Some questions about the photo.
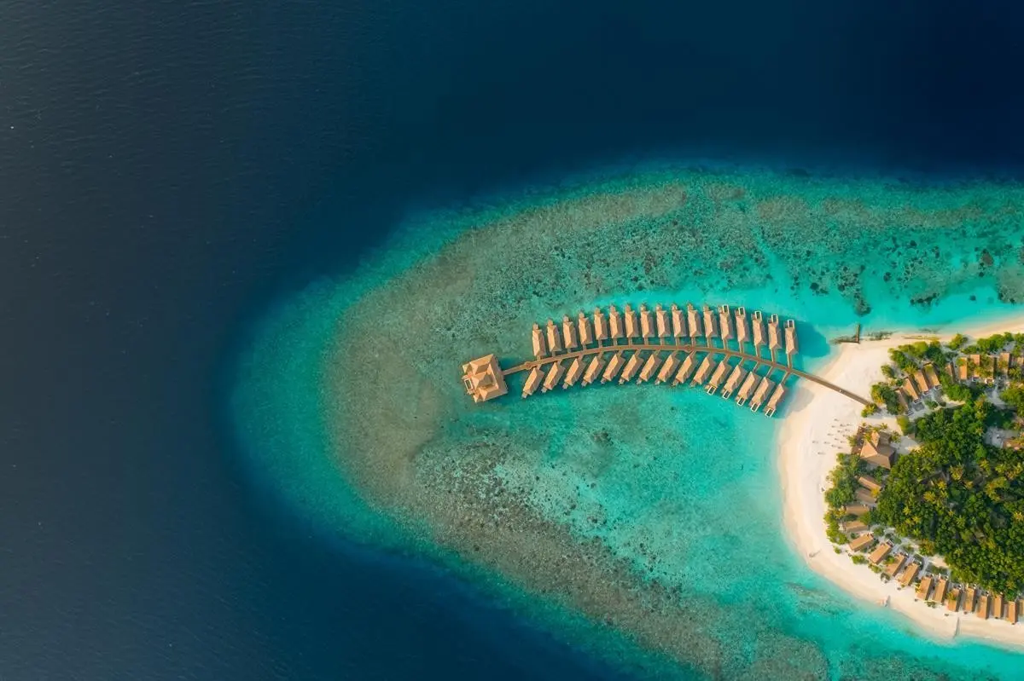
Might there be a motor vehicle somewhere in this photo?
No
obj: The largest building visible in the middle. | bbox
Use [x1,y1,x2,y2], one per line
[462,354,508,403]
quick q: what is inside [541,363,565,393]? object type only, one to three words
house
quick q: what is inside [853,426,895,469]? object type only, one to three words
building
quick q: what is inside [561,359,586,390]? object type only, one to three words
house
